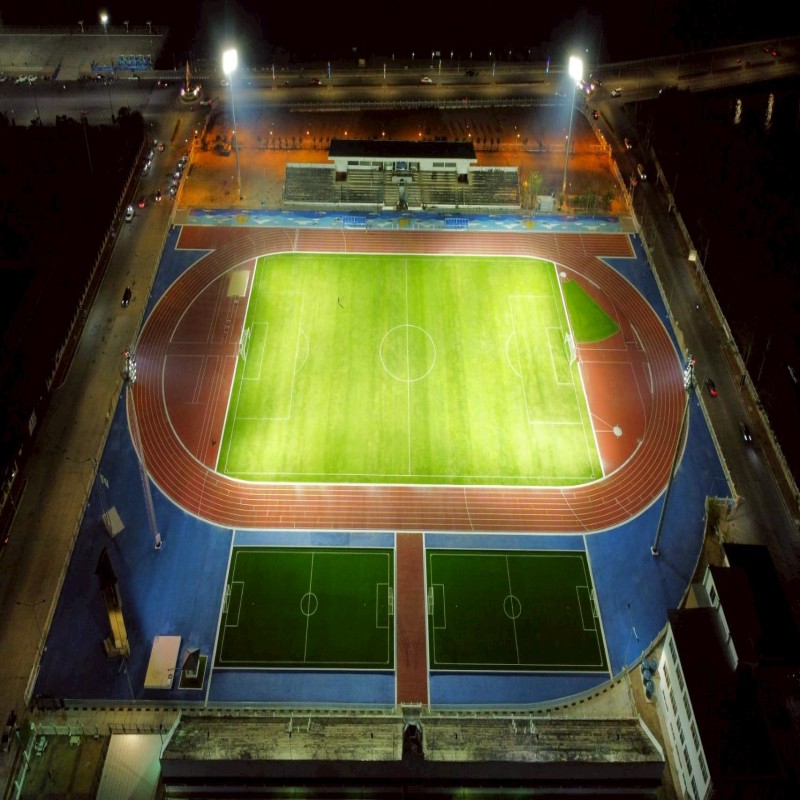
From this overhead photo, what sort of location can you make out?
sports ground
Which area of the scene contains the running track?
center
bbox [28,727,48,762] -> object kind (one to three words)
car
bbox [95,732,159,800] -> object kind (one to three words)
shed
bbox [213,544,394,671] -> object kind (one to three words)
sports field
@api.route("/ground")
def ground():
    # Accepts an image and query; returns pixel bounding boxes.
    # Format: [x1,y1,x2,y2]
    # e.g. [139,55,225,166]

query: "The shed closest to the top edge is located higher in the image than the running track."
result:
[538,190,557,211]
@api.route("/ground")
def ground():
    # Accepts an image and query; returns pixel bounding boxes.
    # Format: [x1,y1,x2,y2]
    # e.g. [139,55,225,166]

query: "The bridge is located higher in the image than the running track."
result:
[623,31,800,98]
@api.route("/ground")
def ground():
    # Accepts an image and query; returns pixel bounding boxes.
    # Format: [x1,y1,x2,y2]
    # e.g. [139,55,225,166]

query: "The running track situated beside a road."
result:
[128,227,687,533]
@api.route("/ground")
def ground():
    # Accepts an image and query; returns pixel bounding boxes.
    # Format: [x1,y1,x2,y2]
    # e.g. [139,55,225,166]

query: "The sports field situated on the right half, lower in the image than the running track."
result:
[427,546,609,673]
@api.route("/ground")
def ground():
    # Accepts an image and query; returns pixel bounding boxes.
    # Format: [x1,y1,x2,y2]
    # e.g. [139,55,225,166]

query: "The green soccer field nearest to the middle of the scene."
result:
[214,252,604,486]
